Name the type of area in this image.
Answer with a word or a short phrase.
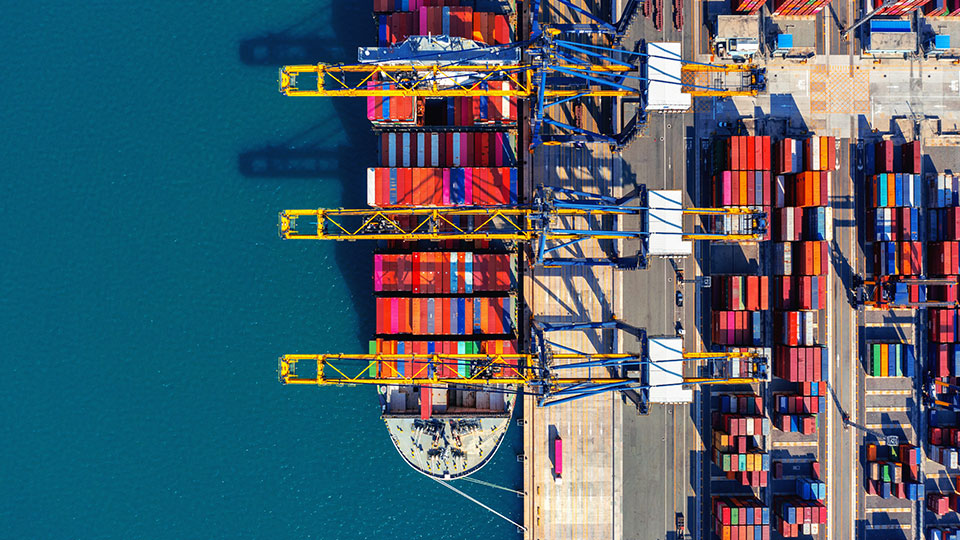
port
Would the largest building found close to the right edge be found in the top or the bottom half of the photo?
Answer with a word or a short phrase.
top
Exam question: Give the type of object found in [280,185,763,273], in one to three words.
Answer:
container crane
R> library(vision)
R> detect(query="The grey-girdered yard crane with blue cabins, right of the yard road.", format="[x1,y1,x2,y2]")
[854,275,960,309]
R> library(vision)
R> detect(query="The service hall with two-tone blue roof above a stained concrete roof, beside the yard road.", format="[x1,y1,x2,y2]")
[860,11,917,59]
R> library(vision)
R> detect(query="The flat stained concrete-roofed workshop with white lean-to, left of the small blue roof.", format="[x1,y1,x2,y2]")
[714,15,758,57]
